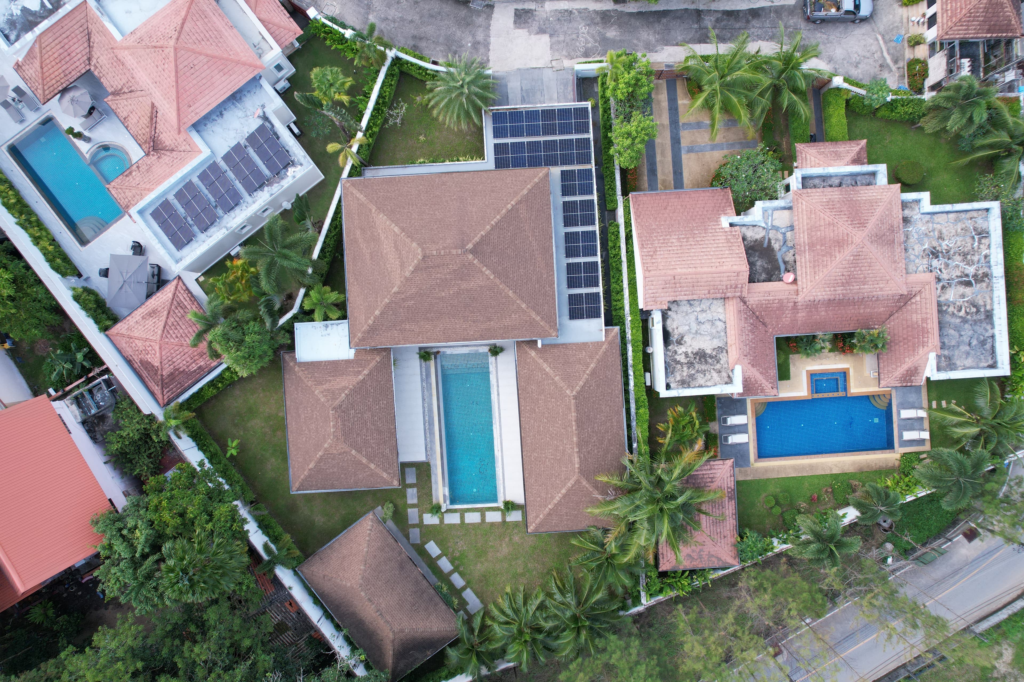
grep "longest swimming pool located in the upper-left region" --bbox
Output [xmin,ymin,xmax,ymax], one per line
[6,114,124,246]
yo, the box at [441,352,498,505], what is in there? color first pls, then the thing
blue swimming pool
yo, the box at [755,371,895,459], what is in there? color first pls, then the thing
blue swimming pool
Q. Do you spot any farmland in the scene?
No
